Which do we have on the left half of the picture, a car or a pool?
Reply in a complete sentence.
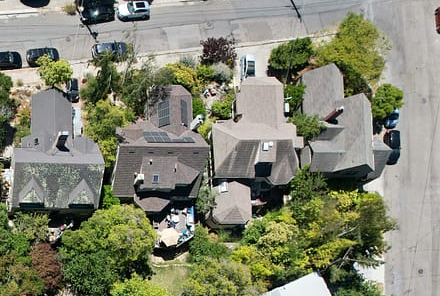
Looking on the left half of the picture, you will find a car.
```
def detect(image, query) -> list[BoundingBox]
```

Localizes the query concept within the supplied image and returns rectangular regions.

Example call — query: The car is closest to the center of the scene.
[238,52,257,85]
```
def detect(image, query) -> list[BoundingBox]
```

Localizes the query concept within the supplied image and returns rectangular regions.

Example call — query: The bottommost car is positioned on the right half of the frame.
[379,128,401,164]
